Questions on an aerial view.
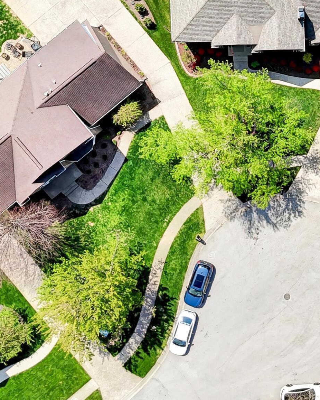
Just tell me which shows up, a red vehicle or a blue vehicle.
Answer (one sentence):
Looking from above, you can make out a blue vehicle.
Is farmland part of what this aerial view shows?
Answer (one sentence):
No, there's no farmland in this view.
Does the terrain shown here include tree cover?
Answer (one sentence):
Yes, tree cover shows up in the scene.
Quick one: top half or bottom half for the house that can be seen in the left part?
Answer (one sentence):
It is in the top half that the house that can be seen in the left part appears.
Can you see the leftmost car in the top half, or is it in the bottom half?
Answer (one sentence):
It is in the bottom half that the leftmost car appears.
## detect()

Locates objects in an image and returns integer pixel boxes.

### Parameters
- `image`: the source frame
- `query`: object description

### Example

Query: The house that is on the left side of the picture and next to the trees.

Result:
[0,19,144,213]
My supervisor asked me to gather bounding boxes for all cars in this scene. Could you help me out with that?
[281,384,320,400]
[184,261,213,311]
[169,309,197,358]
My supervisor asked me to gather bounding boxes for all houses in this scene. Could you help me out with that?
[170,0,320,59]
[0,19,144,213]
